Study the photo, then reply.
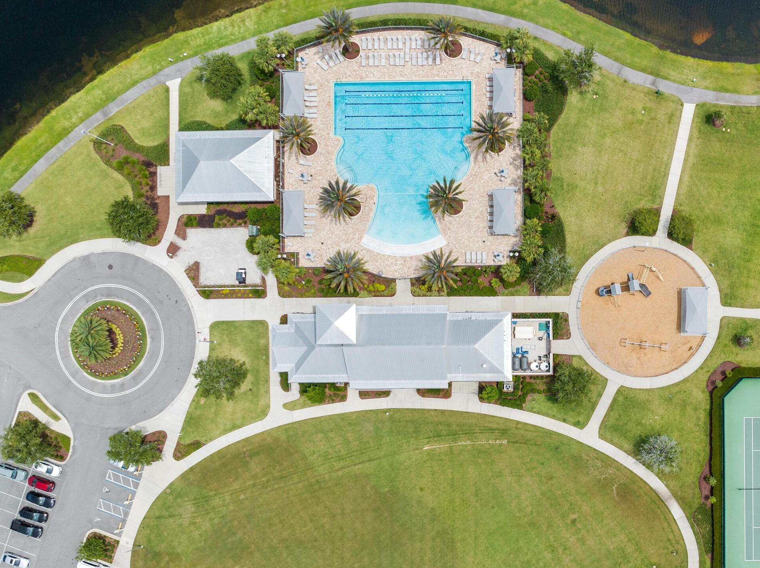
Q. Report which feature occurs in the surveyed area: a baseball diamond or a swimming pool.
swimming pool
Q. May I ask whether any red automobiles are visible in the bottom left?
Yes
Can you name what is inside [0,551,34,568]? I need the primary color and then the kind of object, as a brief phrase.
white car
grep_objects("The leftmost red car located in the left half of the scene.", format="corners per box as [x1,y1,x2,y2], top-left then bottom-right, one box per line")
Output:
[29,474,59,493]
